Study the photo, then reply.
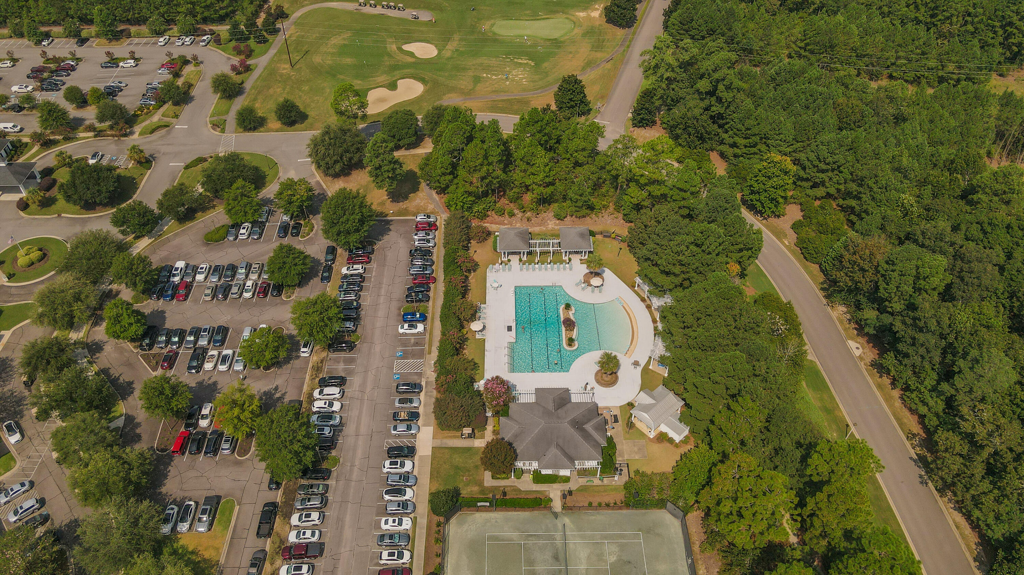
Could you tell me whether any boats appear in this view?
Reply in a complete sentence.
No, this view has no boat in it.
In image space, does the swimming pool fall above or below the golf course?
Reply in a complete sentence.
Within the scene, the swimming pool can be found below the golf course.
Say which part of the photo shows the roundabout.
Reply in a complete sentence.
The roundabout sits in the left section of the image.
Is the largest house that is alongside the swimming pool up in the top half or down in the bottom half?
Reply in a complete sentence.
Seen from above, the largest house that is alongside the swimming pool lies in the bottom half of the view.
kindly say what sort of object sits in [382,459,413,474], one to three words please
car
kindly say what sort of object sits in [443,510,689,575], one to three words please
tennis court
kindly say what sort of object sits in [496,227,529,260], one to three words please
building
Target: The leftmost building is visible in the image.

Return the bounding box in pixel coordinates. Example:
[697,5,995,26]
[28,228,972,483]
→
[0,138,42,197]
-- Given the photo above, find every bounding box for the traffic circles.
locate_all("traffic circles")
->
[0,236,69,284]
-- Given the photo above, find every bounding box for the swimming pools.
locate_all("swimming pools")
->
[476,259,654,417]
